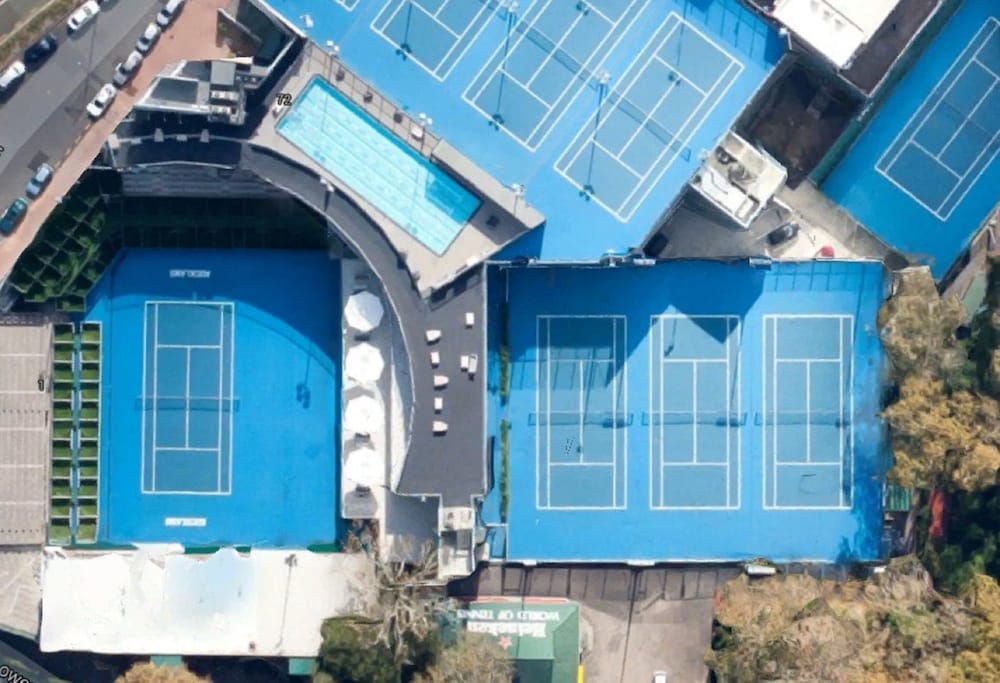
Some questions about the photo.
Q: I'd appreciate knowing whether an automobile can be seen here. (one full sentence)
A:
Yes, this view includes an automobile.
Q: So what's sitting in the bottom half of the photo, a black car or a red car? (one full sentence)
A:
Visible in the bottom half of the photo is a red car.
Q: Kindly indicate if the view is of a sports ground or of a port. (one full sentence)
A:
What you see here is a sports ground.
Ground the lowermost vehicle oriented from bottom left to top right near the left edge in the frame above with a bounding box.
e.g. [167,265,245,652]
[0,198,28,235]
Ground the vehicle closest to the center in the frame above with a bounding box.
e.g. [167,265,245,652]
[642,227,669,260]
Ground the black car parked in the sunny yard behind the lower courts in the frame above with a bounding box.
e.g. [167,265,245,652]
[764,220,802,246]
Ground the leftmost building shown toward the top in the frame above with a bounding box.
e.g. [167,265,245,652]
[134,57,266,124]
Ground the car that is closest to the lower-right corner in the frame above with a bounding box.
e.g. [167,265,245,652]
[928,492,945,535]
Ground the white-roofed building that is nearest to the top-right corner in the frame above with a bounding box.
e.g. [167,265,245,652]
[768,0,898,72]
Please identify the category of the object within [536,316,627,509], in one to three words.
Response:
tennis court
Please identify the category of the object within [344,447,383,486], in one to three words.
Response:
umbrella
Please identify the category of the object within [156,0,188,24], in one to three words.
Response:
car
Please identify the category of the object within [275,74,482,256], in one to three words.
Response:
swimming pool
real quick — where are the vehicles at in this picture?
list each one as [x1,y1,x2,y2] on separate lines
[764,220,802,246]
[156,0,188,24]
[66,0,102,32]
[0,60,26,92]
[23,32,59,64]
[85,83,118,117]
[642,227,669,260]
[113,51,143,85]
[0,198,28,235]
[25,163,55,197]
[135,21,163,55]
[928,492,945,535]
